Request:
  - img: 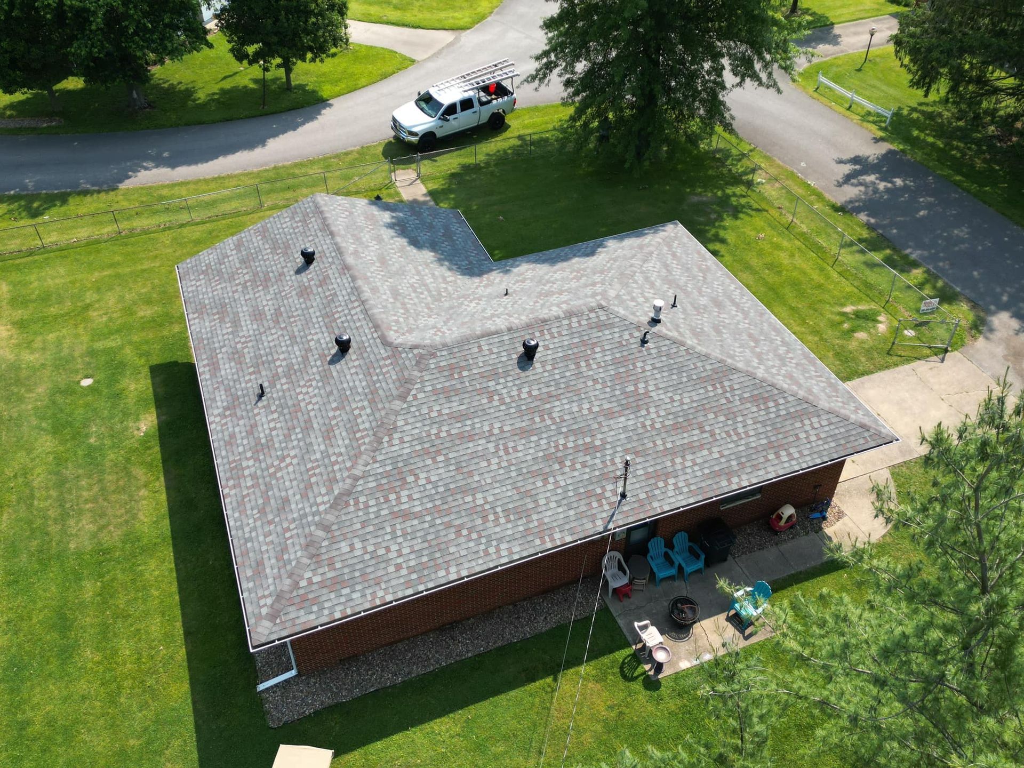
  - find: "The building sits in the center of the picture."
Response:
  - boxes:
[176,193,899,693]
